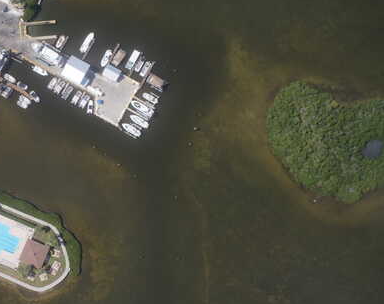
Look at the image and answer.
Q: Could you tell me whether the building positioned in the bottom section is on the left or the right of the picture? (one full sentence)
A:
The building positioned in the bottom section sits on the left side.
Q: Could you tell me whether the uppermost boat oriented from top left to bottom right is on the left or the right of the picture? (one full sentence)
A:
The uppermost boat oriented from top left to bottom right is on the left side of the image.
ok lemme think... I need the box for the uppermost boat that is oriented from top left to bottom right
[32,42,66,67]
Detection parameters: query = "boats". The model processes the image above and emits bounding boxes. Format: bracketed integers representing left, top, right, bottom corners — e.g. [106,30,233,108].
[79,32,91,52]
[87,99,94,114]
[32,65,48,75]
[100,49,112,68]
[16,81,28,89]
[131,115,150,129]
[140,62,151,77]
[0,57,8,71]
[71,92,81,106]
[132,101,155,117]
[54,81,64,95]
[32,42,66,67]
[48,77,57,90]
[62,84,73,100]
[3,73,17,82]
[18,96,32,104]
[143,94,159,104]
[125,49,138,69]
[135,58,144,72]
[17,102,28,110]
[56,36,65,49]
[30,91,40,103]
[78,95,91,110]
[122,123,143,138]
